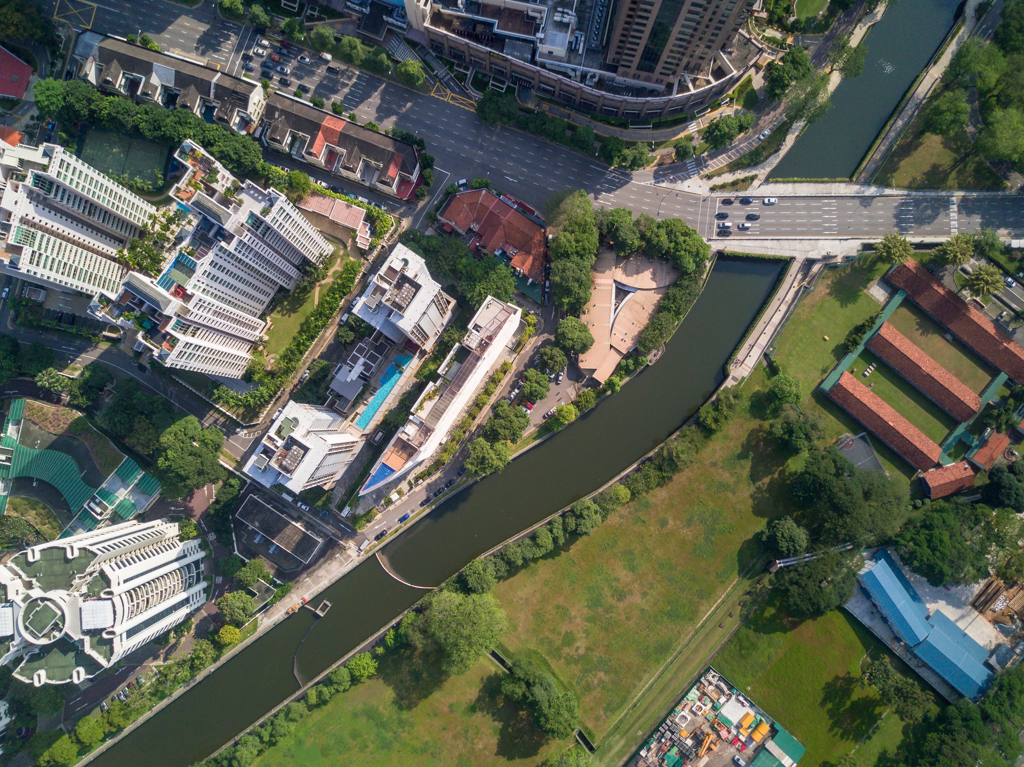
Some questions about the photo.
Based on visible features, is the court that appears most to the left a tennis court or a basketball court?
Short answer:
tennis court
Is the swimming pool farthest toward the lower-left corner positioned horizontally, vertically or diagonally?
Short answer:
diagonally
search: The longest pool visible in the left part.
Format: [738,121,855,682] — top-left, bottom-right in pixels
[354,353,416,434]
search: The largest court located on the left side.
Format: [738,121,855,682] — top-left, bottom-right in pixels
[81,128,172,181]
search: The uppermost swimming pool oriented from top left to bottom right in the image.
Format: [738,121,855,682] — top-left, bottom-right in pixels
[176,261,196,278]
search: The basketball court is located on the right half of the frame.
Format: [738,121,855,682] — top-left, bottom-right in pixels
[841,433,891,480]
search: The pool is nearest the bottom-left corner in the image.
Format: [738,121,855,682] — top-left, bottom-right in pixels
[362,464,395,492]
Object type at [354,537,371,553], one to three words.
vehicle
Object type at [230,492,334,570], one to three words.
building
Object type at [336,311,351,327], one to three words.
vehicle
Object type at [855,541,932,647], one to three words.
shed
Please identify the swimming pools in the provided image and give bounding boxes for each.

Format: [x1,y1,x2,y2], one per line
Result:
[159,252,179,277]
[176,261,196,278]
[362,464,395,492]
[354,353,416,434]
